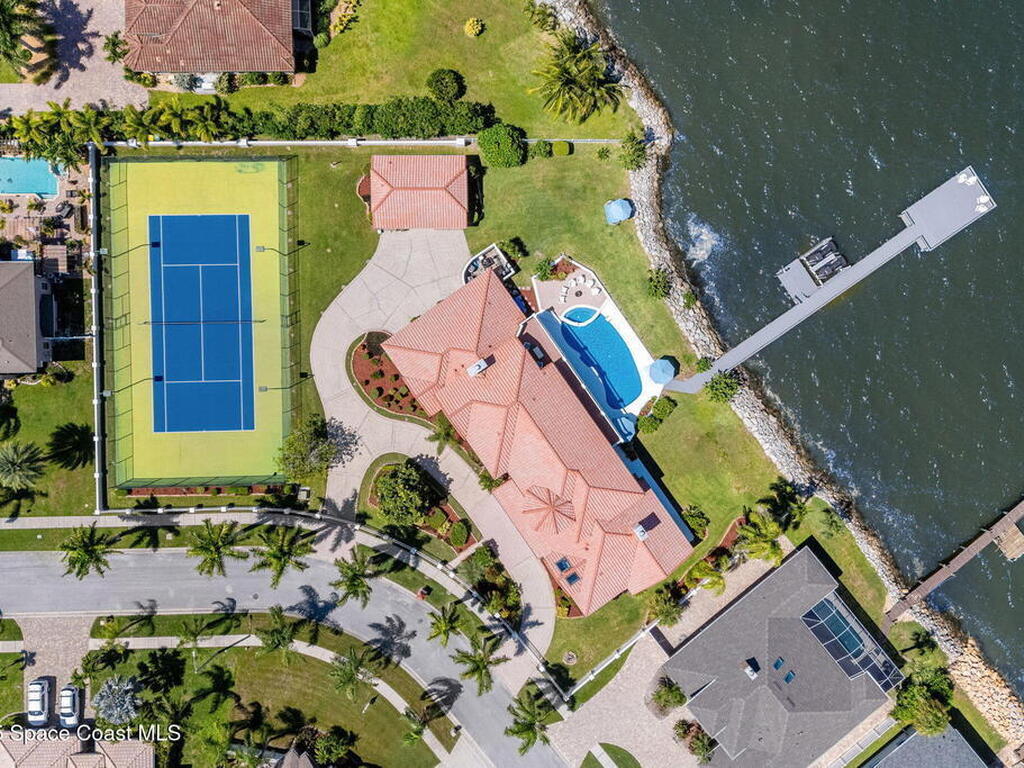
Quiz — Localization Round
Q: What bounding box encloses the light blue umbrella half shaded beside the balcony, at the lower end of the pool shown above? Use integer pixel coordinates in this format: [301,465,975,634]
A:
[616,416,639,439]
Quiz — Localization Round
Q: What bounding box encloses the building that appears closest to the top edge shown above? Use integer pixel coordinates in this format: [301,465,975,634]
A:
[123,0,296,79]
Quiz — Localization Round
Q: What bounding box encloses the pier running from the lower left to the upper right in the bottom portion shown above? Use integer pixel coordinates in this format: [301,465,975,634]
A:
[879,500,1024,632]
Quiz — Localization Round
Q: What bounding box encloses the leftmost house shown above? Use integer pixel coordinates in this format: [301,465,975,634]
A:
[0,262,65,373]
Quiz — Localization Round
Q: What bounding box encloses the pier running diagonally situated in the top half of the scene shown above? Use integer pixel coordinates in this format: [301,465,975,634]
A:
[664,166,996,393]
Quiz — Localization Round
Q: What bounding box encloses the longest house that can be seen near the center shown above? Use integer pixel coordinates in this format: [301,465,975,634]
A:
[384,268,693,617]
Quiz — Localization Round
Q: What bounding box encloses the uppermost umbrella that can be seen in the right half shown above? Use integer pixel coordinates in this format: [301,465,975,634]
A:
[607,200,632,225]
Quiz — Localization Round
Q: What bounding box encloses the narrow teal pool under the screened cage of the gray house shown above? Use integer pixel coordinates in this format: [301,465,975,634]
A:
[811,598,865,659]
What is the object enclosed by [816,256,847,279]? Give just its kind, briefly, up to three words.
vessel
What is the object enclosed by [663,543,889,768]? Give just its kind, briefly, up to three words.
house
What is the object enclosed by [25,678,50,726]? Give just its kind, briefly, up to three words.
car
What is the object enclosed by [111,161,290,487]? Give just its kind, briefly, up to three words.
tennis court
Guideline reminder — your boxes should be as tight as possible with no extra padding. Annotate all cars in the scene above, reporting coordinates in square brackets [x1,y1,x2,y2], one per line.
[25,678,50,726]
[55,683,80,728]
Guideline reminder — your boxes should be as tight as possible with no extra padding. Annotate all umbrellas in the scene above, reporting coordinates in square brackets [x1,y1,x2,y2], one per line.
[607,200,632,225]
[650,359,674,383]
[616,416,639,439]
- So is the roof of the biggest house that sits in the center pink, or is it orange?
pink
